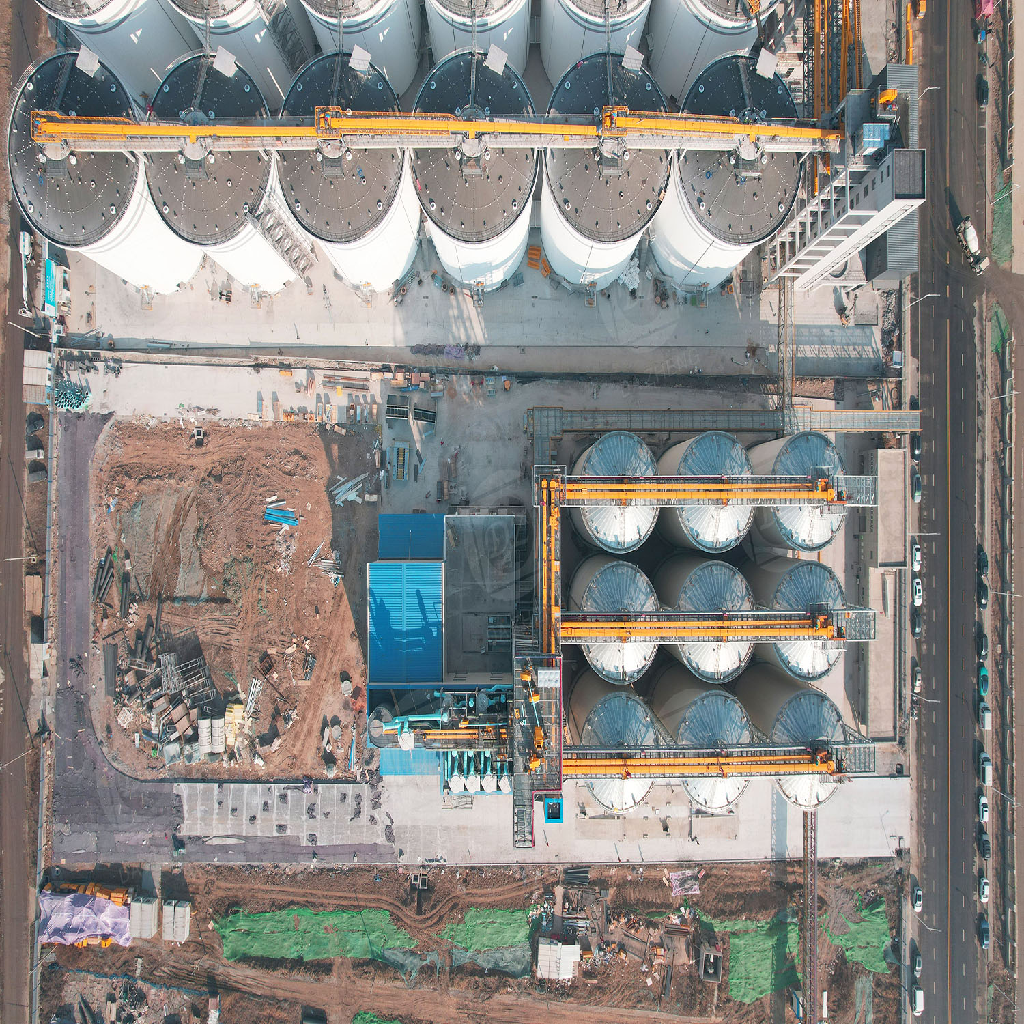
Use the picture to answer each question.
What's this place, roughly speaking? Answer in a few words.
industrial area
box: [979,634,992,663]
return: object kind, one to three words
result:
vehicle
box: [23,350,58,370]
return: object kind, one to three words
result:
building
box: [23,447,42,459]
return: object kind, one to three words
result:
vehicle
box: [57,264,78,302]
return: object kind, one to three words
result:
building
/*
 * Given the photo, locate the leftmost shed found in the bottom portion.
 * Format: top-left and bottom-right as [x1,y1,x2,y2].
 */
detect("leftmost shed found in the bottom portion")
[30,641,51,679]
